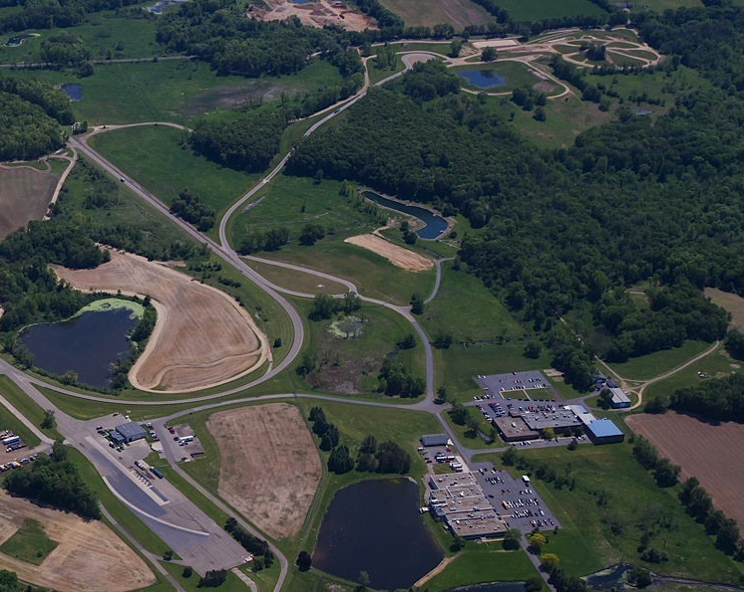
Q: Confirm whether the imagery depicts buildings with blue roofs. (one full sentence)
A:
Yes, a building with a blue roof appears in the view.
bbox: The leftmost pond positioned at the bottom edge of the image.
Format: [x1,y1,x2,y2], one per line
[313,478,443,590]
